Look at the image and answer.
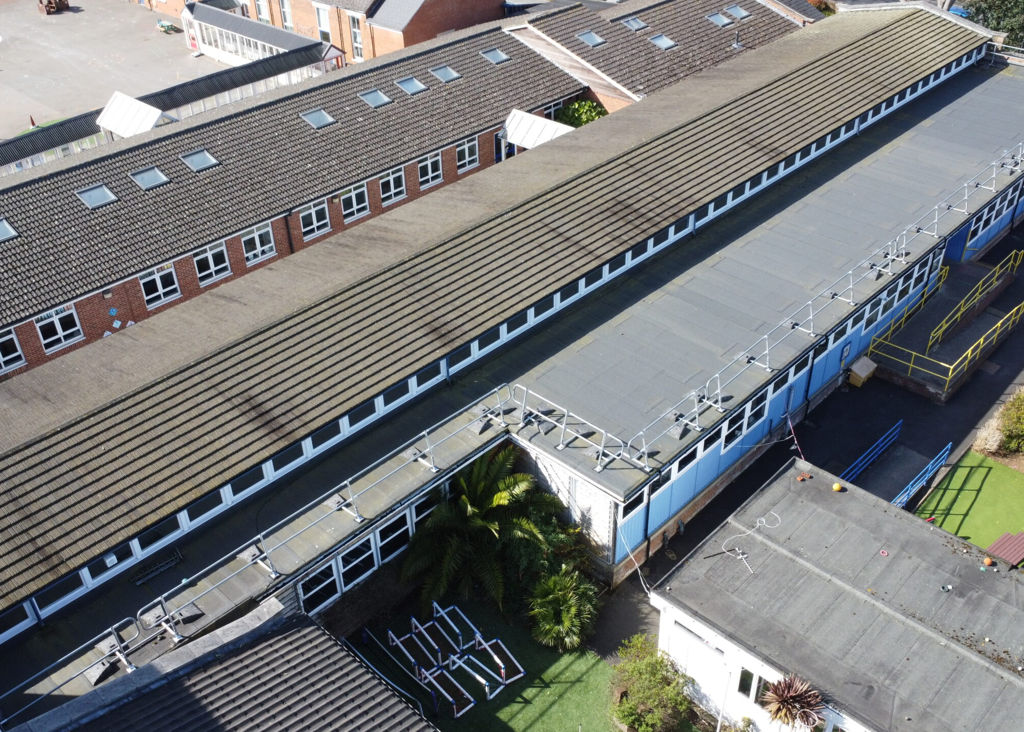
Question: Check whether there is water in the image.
No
